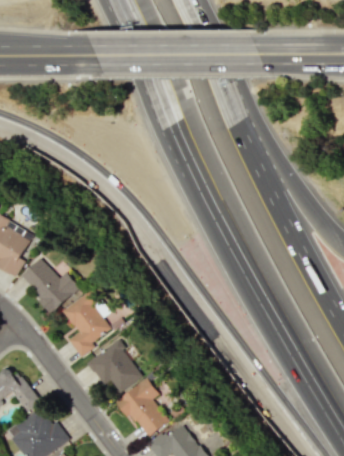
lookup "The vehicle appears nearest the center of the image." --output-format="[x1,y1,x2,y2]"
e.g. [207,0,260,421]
[108,175,124,190]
